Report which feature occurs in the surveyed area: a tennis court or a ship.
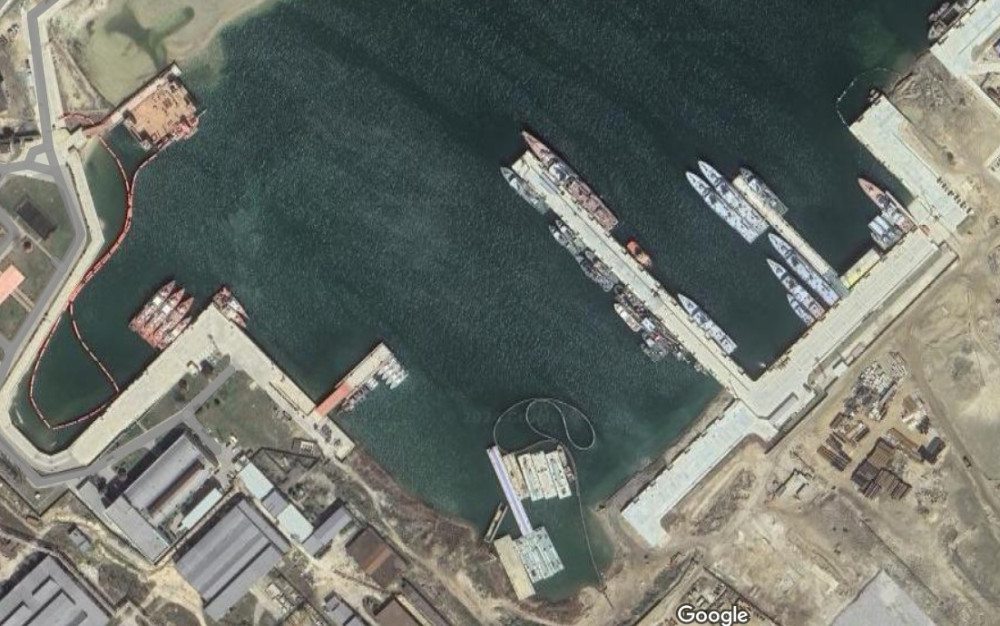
ship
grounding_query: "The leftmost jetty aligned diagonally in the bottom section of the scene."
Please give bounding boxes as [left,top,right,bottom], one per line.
[315,344,392,417]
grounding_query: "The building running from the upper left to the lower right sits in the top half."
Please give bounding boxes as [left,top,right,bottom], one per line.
[16,198,56,239]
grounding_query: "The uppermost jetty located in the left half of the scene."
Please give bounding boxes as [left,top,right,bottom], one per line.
[82,66,207,170]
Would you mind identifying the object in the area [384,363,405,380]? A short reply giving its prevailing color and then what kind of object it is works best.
white boat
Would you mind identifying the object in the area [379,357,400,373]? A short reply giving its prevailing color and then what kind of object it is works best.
white boat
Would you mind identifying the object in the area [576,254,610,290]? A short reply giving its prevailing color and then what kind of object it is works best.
gray boat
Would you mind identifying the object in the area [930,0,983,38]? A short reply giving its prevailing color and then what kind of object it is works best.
gray ship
